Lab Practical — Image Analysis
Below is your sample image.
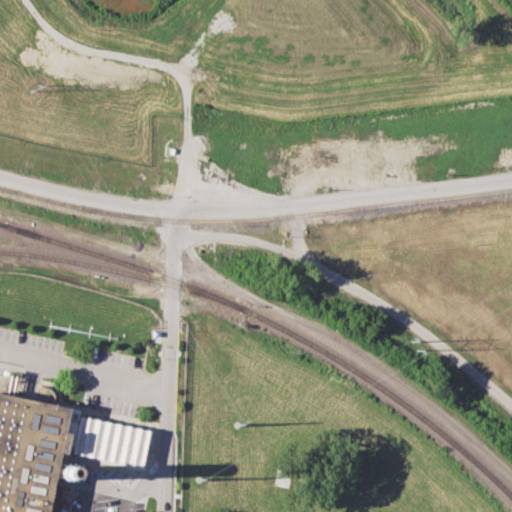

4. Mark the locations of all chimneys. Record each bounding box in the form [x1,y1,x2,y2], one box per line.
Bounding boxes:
[60,464,88,484]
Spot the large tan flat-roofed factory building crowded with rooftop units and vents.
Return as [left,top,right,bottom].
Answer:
[0,396,80,512]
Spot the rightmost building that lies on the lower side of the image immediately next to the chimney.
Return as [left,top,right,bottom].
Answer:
[71,418,151,472]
